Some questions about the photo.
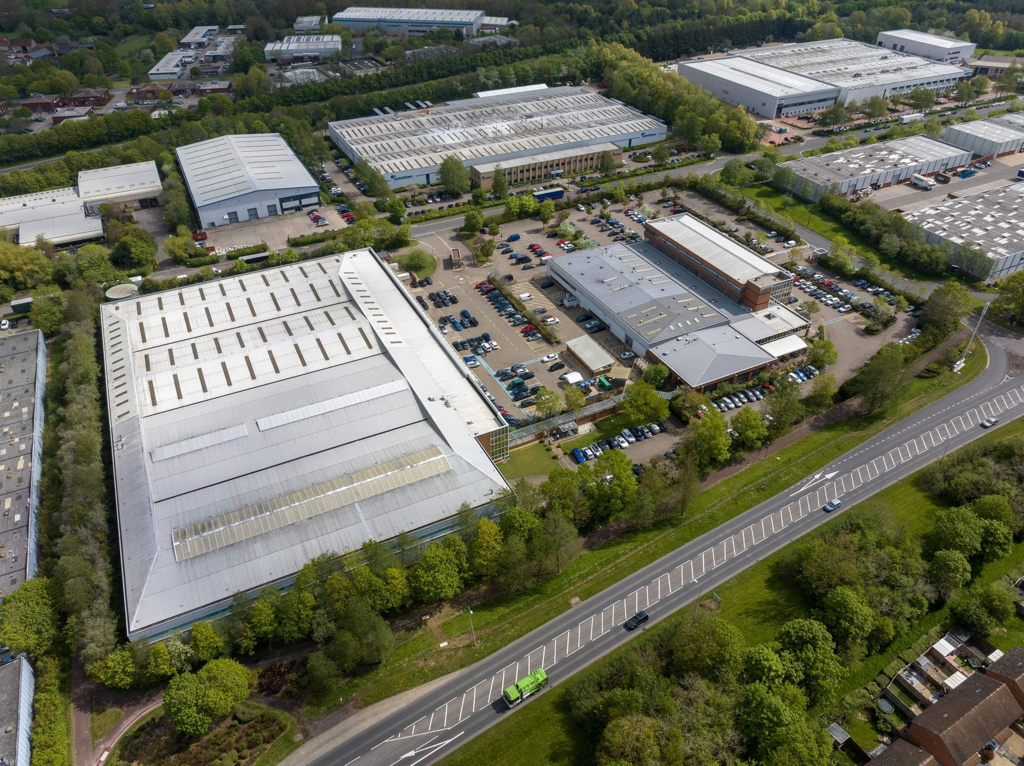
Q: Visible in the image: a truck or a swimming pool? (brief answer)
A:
truck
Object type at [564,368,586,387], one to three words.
gazebo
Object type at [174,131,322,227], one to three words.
shed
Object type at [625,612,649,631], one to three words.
car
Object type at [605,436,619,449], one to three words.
vehicle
